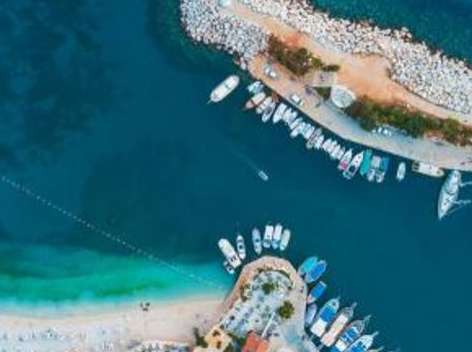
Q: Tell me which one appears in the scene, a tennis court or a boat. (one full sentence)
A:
This aerial view contains a boat.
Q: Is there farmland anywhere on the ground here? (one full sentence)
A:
No, there is no farmland in the image.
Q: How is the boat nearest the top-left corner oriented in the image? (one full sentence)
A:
In this picture, the boat nearest the top-left corner is oriented diagonally.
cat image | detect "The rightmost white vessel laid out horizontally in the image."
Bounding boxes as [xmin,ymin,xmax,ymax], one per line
[412,162,446,176]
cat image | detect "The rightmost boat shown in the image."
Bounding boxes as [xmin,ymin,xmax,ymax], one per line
[438,169,470,218]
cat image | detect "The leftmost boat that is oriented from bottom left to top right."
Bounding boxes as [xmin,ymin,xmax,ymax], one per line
[206,73,241,101]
